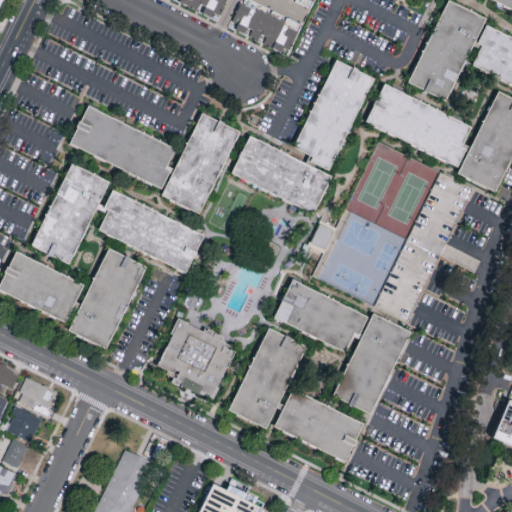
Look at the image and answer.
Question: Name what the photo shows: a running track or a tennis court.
tennis court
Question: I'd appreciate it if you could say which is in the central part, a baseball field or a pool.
pool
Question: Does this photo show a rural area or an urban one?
urban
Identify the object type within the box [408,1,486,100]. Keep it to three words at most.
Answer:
building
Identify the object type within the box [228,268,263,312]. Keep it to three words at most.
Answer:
swimming pool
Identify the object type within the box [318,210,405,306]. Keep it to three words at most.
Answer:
sports court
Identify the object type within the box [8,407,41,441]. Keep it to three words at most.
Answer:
house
